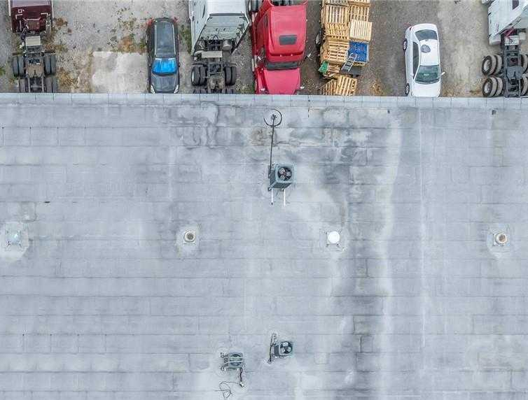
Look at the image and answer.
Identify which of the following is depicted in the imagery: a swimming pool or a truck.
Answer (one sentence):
It is a truck that can be seen here.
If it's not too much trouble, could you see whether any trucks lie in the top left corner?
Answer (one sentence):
Yes, you'll find a truck in the top left corner.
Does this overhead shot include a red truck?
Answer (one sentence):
Yes, I can see a red truck in this picture.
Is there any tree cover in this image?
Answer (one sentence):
No, there is no tree cover in the image.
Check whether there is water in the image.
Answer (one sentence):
No, the scene doesn't show any water.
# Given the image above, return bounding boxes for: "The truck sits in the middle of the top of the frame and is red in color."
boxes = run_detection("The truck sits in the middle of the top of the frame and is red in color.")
[253,0,314,95]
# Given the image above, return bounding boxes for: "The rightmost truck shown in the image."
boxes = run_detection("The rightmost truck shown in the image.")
[479,0,528,96]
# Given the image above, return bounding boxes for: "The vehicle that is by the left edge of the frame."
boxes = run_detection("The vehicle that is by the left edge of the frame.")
[13,0,57,94]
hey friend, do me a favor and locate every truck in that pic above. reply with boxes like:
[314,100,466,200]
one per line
[253,0,314,95]
[479,0,528,96]
[13,0,57,94]
[191,0,249,95]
